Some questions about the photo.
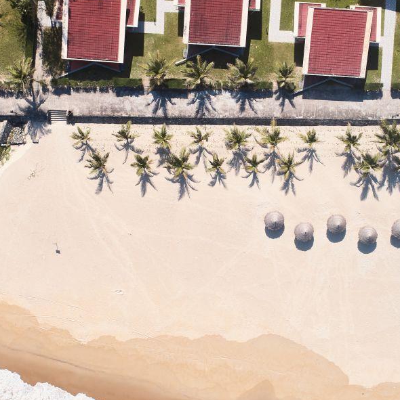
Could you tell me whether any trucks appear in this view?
No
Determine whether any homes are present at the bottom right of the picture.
No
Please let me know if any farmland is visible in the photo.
No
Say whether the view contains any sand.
Yes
